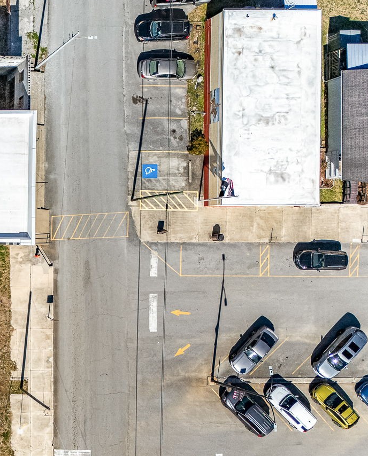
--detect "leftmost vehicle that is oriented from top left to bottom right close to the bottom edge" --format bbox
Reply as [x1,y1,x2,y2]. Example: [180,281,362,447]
[216,381,275,437]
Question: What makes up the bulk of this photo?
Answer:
paved ground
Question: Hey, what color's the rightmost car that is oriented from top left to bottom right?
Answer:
white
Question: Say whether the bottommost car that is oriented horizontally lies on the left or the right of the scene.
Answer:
right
